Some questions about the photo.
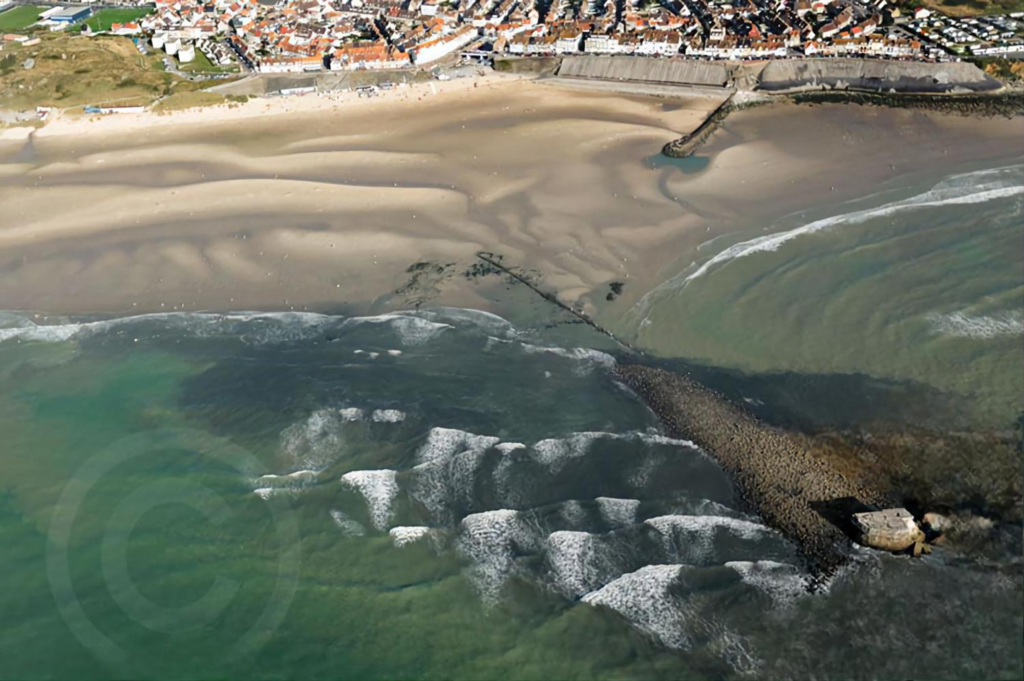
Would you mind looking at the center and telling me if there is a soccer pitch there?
No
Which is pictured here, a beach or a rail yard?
beach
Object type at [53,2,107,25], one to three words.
building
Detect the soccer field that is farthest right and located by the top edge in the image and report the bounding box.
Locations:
[77,7,145,32]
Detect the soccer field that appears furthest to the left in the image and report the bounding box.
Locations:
[0,4,50,29]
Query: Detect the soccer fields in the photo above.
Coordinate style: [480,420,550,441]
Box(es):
[0,4,50,29]
[77,7,145,32]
